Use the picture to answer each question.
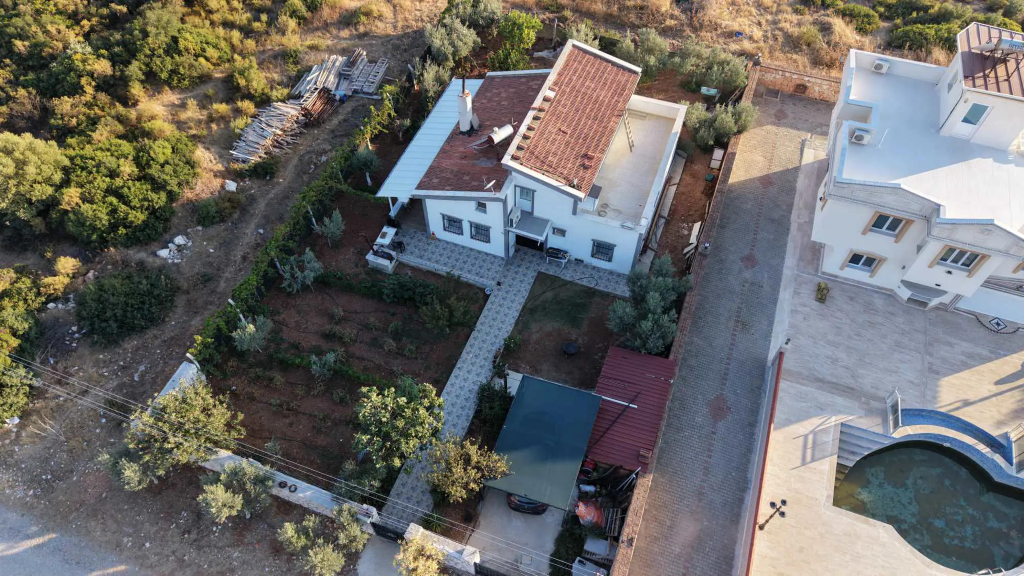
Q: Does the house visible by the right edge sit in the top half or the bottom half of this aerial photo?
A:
top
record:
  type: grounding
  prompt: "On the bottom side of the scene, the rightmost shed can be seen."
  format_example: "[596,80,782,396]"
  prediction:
[584,347,676,481]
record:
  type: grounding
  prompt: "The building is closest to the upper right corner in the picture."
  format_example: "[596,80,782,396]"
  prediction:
[808,23,1024,322]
